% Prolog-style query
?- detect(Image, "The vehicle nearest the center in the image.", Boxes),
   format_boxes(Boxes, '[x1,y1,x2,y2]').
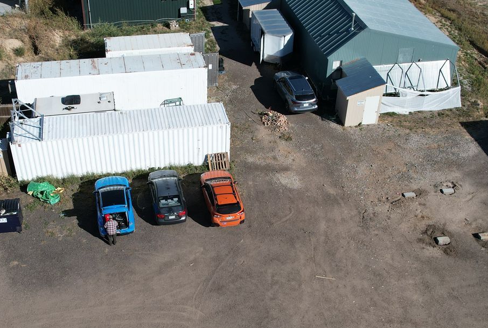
[203,171,249,225]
